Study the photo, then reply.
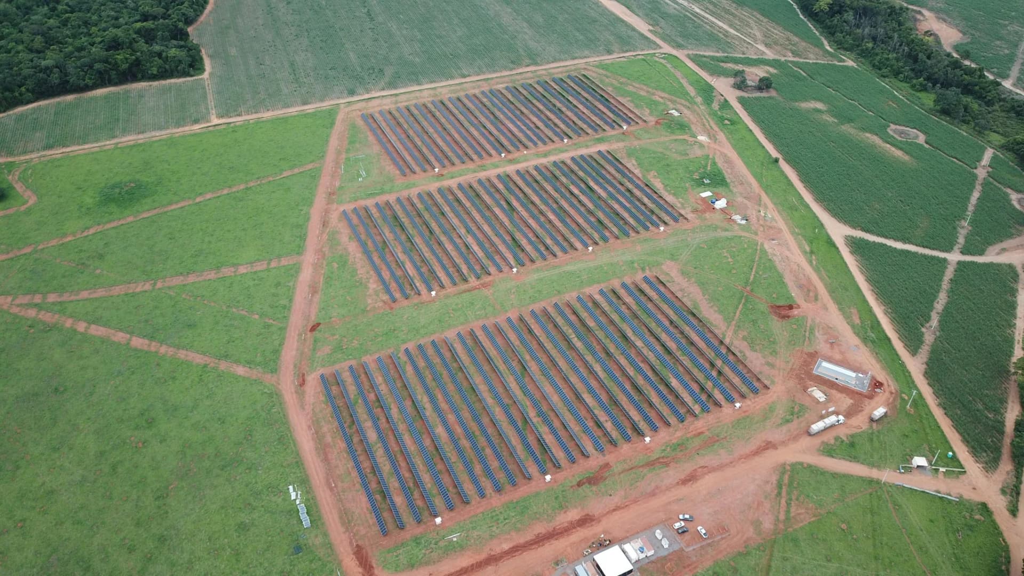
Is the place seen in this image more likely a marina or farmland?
farmland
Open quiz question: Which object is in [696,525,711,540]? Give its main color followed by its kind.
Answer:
white vehicle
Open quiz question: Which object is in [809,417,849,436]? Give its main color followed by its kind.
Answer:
white vehicle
